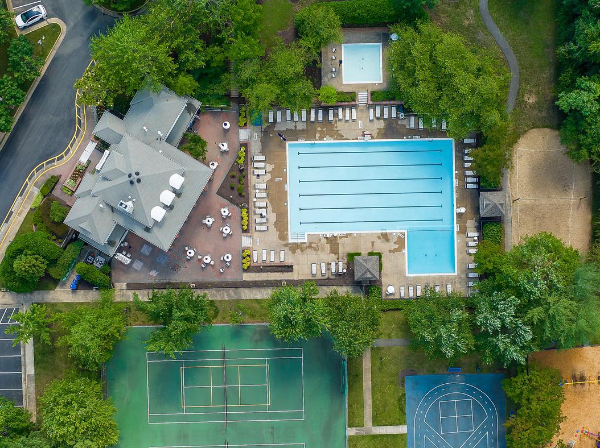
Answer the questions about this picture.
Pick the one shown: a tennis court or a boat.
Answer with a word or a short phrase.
tennis court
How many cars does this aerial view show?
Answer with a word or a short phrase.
1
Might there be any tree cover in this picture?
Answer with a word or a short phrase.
Yes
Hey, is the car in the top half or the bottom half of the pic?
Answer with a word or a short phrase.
top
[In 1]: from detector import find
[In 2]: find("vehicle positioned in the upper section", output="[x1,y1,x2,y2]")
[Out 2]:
[16,5,48,28]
